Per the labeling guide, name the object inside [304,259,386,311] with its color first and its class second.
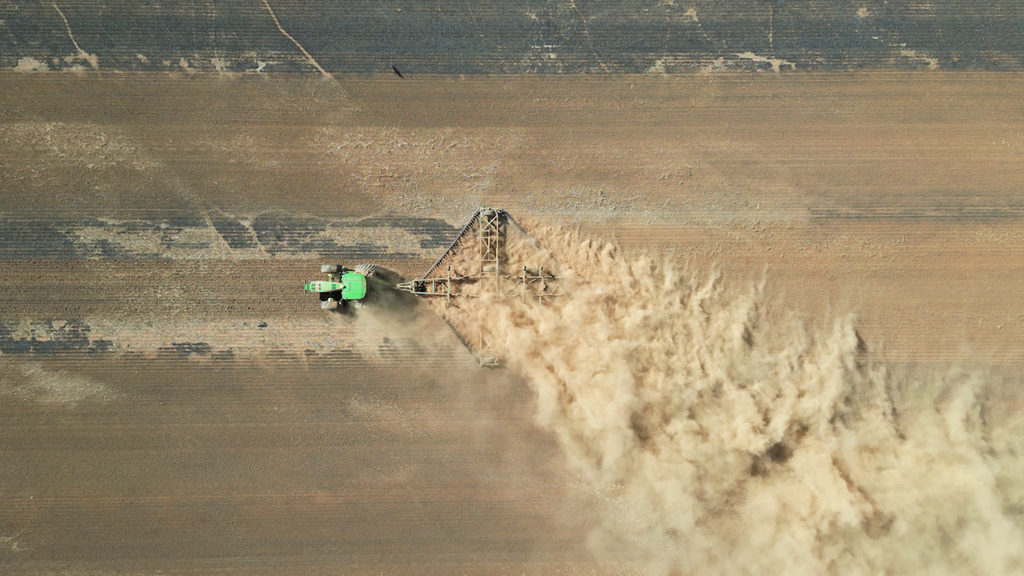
green work vehicle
